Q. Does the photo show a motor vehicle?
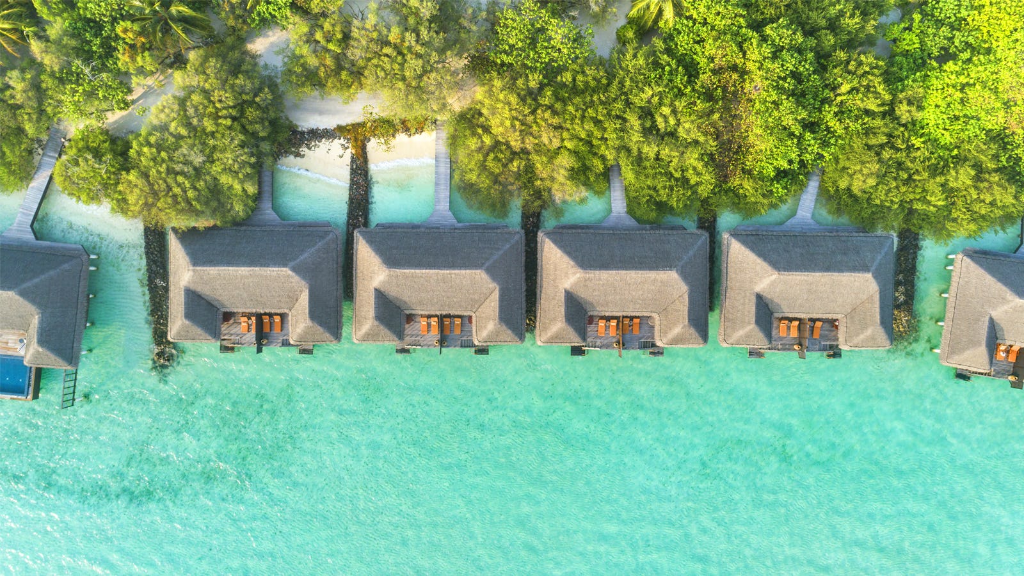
No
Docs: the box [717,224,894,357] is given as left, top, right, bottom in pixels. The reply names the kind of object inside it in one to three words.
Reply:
house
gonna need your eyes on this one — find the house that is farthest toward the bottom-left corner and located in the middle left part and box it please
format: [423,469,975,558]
[0,239,101,369]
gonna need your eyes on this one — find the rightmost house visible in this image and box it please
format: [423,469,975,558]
[927,248,1024,391]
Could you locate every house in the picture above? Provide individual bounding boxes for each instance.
[0,239,101,369]
[534,223,711,356]
[168,222,344,354]
[717,224,894,357]
[927,248,1024,391]
[351,222,527,355]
